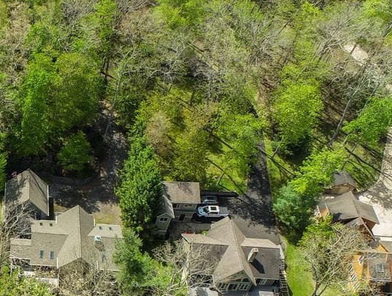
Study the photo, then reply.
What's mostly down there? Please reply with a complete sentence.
The largest share of the image is taken up by trees.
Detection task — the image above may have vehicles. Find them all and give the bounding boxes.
[198,205,232,218]
[200,194,224,206]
